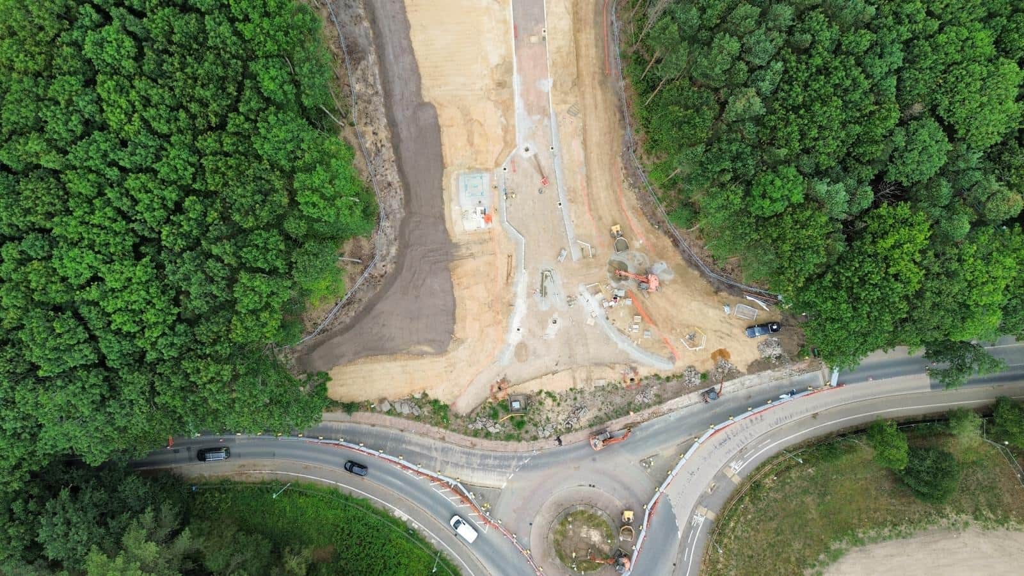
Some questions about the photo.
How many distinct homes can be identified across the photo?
0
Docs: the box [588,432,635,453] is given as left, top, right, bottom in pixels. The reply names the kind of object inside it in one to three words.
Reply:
work vehicle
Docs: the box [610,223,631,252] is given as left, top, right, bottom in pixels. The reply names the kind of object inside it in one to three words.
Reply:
truck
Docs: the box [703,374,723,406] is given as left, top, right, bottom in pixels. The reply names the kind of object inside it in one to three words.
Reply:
work vehicle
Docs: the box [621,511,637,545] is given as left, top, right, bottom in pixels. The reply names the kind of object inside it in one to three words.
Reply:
vehicle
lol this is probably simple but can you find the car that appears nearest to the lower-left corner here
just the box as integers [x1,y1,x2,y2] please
[195,447,228,463]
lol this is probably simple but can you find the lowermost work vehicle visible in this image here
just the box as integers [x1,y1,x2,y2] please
[596,555,631,573]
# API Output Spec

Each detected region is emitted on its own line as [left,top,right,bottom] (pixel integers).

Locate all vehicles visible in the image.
[610,223,631,252]
[195,447,228,463]
[621,511,637,545]
[342,461,368,478]
[747,320,784,339]
[596,555,631,573]
[612,267,663,296]
[449,516,479,548]
[703,374,723,406]
[588,432,635,453]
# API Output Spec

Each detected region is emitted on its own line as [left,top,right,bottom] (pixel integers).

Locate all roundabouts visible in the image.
[461,441,697,576]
